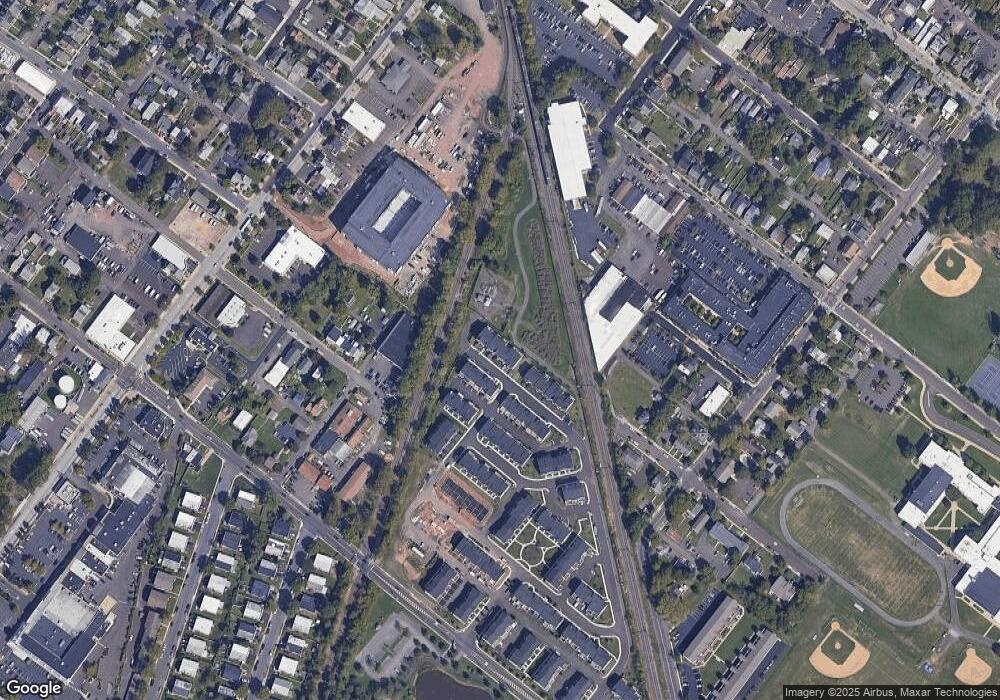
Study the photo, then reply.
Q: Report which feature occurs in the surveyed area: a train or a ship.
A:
train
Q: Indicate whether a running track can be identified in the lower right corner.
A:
Yes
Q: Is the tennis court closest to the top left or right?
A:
right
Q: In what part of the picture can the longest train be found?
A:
top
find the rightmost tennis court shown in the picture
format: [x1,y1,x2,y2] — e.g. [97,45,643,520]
[967,355,1000,407]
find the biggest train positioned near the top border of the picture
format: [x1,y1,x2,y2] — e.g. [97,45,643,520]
[510,6,551,185]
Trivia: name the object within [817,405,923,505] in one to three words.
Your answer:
sports field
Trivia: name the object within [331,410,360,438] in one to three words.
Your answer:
building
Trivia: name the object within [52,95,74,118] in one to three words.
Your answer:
house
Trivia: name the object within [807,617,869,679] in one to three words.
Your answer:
baseball field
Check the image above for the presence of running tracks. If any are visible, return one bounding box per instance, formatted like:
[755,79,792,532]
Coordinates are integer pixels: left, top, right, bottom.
[779,478,947,626]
